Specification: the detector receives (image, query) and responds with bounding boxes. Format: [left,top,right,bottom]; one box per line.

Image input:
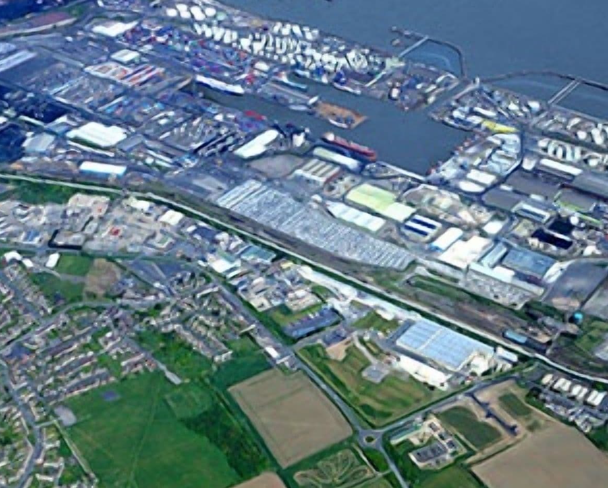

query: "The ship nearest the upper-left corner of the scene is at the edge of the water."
[192,74,244,94]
